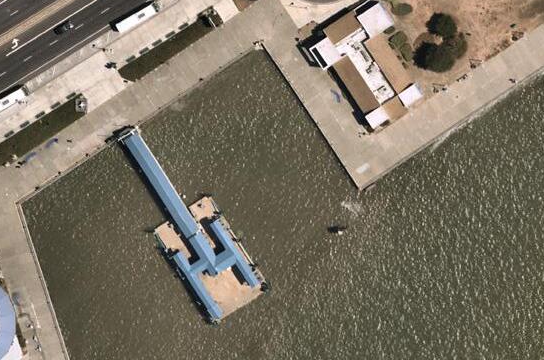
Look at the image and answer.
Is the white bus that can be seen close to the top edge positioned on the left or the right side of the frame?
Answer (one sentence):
You can find the white bus that can be seen close to the top edge on the left side of the picture.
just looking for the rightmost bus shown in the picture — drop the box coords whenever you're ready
[115,0,160,33]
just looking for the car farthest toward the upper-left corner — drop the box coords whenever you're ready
[54,20,73,34]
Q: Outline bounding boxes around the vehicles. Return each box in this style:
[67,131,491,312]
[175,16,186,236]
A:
[0,84,29,111]
[115,0,160,33]
[54,20,73,34]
